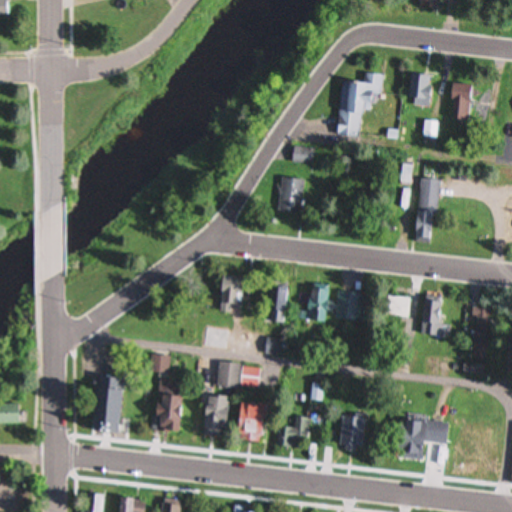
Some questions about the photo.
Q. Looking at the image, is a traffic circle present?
No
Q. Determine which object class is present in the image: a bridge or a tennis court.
bridge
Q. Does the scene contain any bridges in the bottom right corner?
No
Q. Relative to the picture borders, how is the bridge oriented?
vertically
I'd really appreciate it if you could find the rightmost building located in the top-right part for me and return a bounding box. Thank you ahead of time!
[452,82,474,120]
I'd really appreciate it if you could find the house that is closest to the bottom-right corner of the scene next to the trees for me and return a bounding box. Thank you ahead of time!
[399,412,449,462]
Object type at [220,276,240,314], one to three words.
house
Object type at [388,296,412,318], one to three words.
building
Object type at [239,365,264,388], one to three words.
shed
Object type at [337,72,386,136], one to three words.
building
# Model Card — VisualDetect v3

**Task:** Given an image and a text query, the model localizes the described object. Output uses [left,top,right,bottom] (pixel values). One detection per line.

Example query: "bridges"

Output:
[34,196,66,282]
